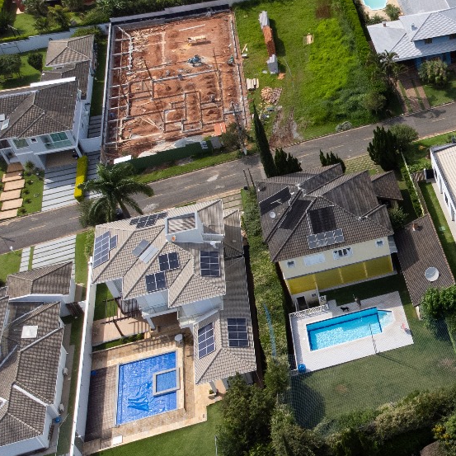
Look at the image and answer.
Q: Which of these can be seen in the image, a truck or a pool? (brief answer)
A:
pool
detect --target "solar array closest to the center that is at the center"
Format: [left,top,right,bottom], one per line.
[202,250,219,276]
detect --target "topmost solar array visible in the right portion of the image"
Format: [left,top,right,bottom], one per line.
[308,227,344,249]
